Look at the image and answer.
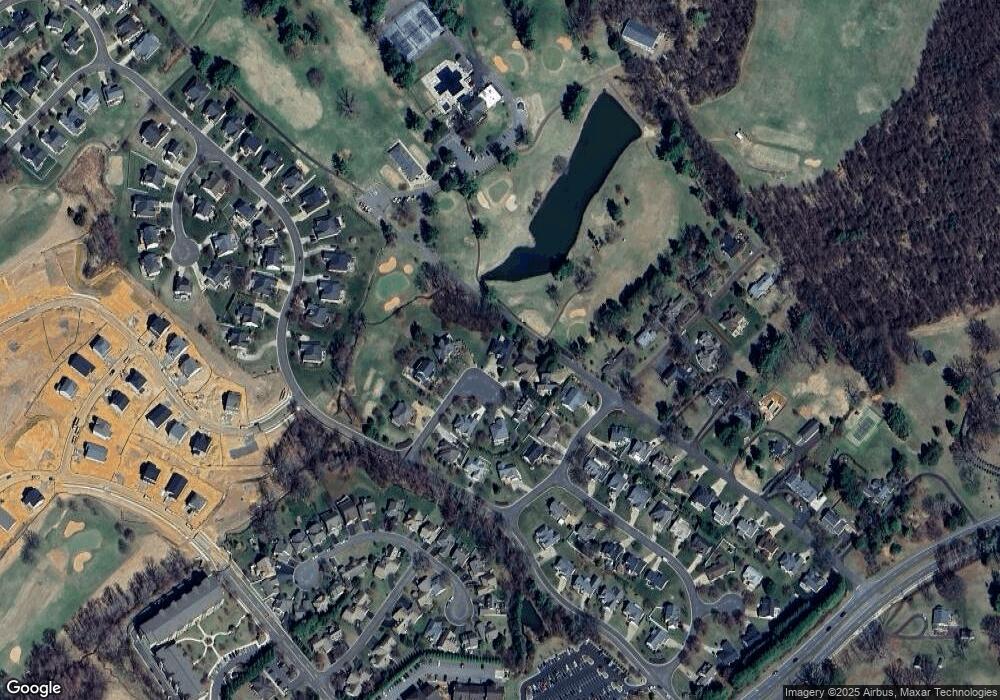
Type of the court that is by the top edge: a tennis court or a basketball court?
tennis court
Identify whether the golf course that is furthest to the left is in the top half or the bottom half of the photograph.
bottom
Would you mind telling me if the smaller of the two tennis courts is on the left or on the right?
right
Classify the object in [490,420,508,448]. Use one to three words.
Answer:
house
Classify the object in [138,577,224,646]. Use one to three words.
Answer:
building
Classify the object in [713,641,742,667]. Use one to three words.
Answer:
house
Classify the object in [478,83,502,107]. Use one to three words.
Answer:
building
